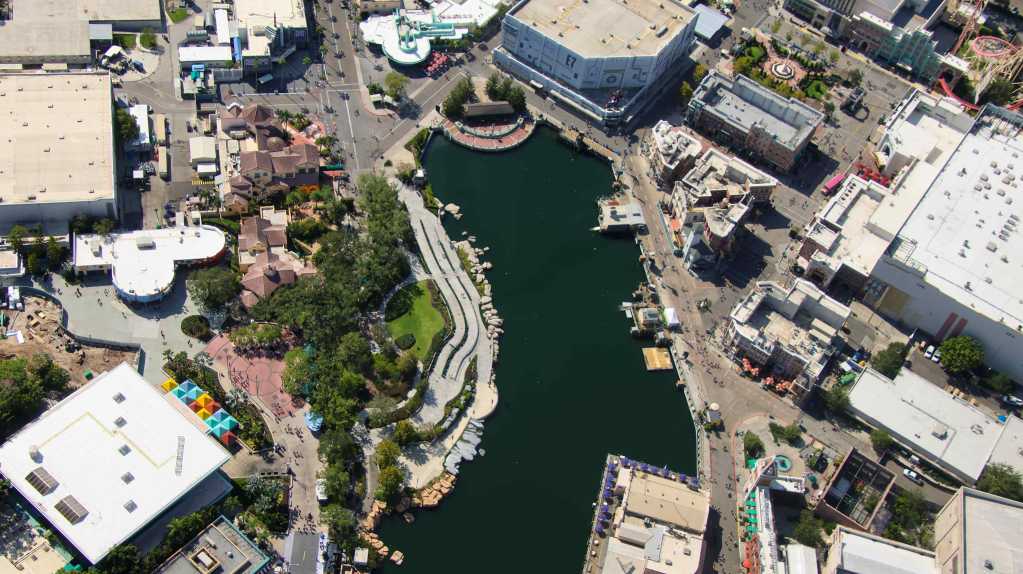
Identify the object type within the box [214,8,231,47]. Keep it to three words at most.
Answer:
shed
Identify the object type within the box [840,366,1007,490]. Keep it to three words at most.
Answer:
building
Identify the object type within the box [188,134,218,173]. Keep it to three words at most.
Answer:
building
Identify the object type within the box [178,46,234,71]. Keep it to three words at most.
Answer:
shed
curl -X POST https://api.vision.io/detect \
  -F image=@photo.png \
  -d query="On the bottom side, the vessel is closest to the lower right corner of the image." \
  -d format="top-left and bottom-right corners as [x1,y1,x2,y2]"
[642,348,671,374]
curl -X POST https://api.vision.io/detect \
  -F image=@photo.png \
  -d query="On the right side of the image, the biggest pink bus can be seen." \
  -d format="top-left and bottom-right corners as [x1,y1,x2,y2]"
[820,173,847,196]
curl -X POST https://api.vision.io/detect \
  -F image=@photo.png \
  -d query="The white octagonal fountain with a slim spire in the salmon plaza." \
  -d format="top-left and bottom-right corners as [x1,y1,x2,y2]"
[771,53,797,77]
